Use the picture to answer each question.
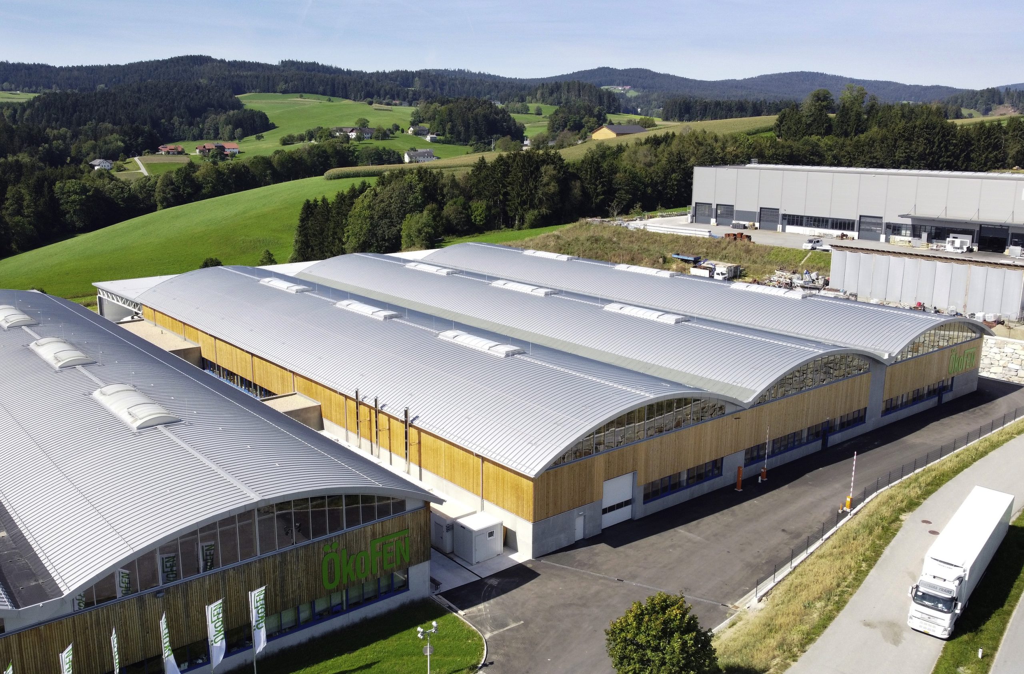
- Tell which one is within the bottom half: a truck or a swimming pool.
truck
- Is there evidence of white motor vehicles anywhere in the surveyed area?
Yes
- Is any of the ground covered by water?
No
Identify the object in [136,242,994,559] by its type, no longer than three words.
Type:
building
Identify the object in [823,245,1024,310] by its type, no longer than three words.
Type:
shed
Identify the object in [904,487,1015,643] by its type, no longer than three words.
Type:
truck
